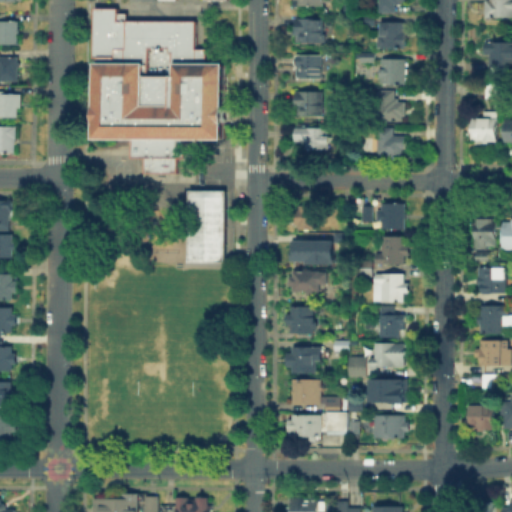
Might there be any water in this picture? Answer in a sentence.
No, the scene doesn't show any water.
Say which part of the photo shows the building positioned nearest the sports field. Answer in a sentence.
You can find the building positioned nearest the sports field in the center area of the picture.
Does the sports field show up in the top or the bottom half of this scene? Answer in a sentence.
You can find the sports field in the bottom half.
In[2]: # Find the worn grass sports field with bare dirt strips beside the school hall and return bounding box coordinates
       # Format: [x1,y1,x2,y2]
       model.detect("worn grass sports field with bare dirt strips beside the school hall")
[88,257,229,447]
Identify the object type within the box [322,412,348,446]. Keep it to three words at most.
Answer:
building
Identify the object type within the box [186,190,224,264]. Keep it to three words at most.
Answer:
building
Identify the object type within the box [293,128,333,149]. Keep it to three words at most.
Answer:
house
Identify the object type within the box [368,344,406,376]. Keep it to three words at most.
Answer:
house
